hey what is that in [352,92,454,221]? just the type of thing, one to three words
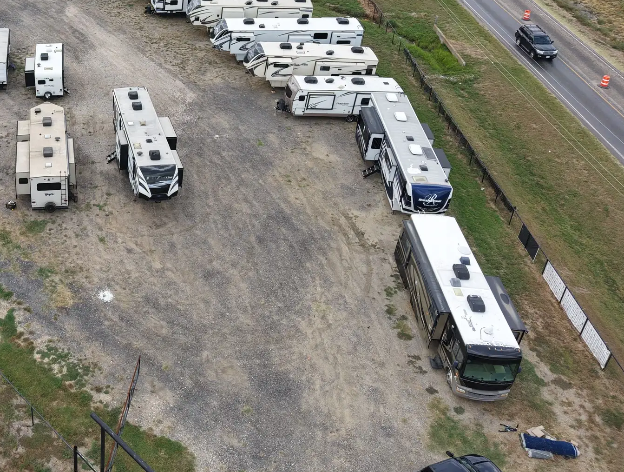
camper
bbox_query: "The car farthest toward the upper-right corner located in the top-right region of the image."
[515,24,558,57]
